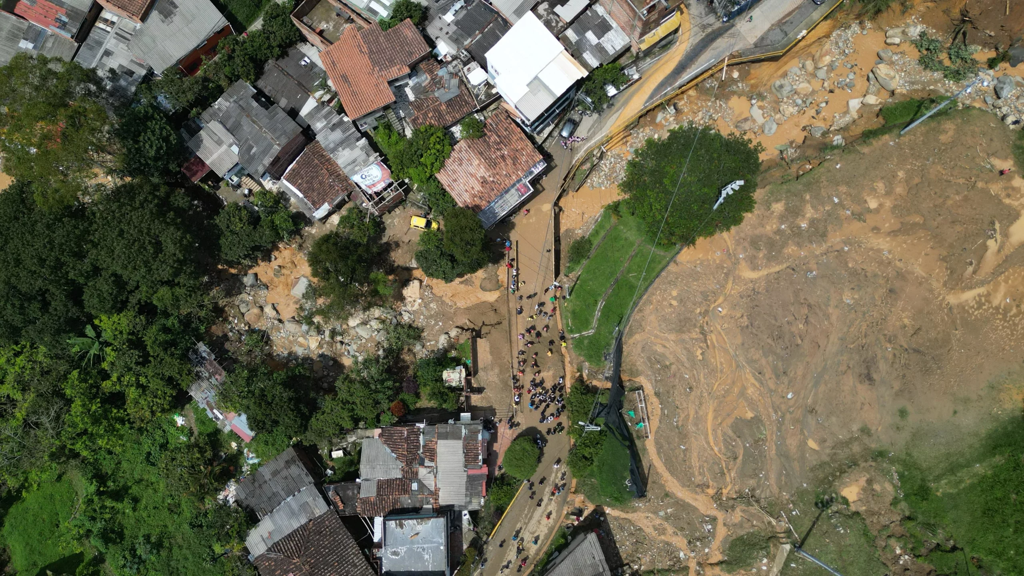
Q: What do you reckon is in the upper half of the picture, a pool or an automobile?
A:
automobile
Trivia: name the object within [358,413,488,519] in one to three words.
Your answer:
house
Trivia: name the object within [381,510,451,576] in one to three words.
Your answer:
building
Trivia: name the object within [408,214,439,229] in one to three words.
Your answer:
car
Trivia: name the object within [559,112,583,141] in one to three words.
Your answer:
car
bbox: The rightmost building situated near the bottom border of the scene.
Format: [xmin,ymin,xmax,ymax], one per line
[526,529,612,576]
